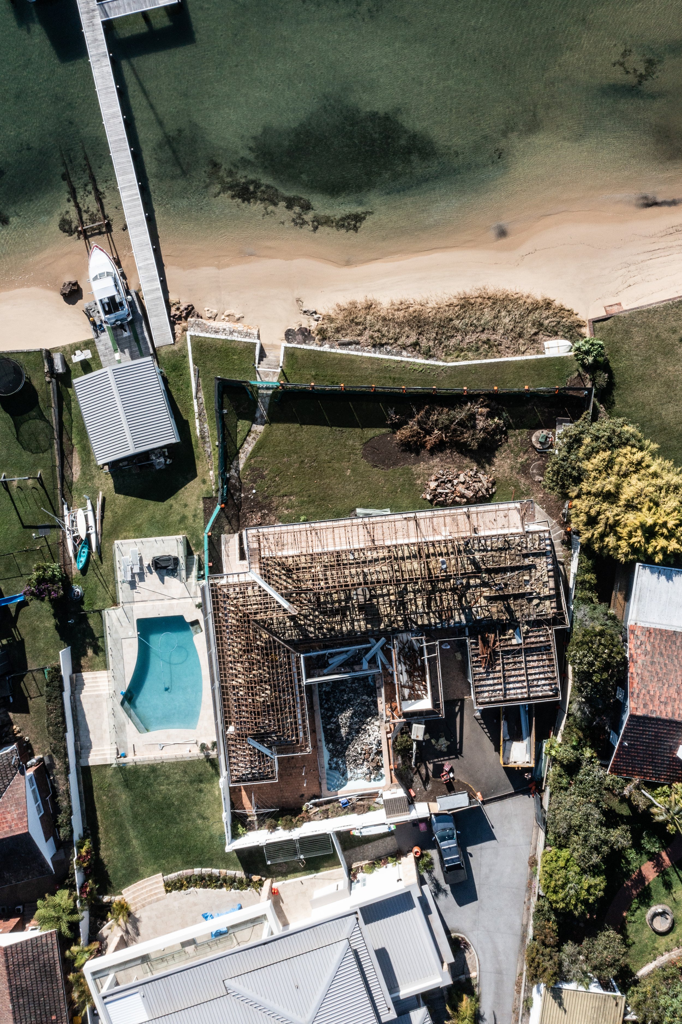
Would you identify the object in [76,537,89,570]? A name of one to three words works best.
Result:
boat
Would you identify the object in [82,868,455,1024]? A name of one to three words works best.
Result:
house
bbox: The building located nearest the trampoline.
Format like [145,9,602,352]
[72,355,179,466]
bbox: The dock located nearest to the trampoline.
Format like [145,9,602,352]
[74,0,174,347]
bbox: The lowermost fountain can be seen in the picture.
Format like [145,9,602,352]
[647,905,673,932]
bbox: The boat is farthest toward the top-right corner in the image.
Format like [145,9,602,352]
[542,339,573,355]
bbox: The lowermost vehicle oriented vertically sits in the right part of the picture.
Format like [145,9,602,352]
[432,811,472,887]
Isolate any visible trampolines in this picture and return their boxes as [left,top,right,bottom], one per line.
[0,352,28,400]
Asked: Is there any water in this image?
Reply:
Yes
